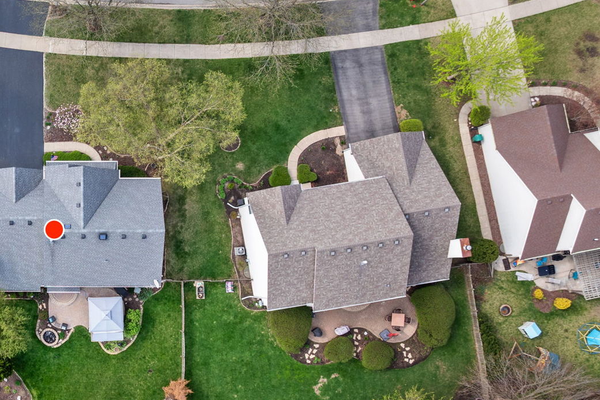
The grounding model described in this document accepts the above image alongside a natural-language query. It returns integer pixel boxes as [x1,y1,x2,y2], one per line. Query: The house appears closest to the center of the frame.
[227,129,472,312]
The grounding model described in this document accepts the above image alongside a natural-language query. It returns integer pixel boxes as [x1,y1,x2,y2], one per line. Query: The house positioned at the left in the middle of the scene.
[0,159,165,295]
